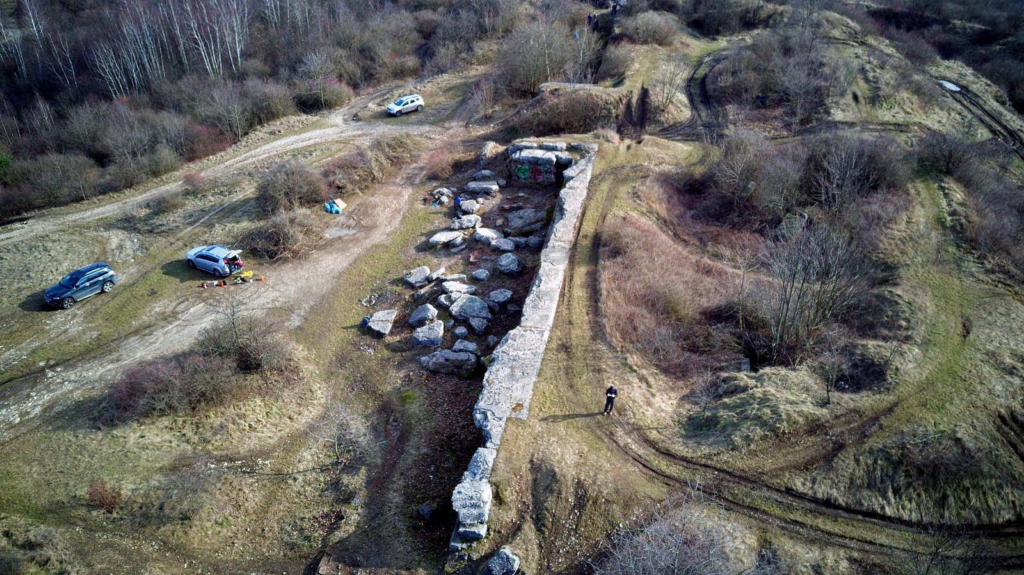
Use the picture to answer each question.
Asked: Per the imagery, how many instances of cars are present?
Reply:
3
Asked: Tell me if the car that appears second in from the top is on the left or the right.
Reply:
left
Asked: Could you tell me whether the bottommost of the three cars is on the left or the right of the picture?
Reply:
left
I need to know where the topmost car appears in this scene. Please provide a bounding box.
[389,94,426,116]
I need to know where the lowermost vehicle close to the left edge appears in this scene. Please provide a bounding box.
[44,266,118,309]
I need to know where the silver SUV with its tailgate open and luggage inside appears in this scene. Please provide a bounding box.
[185,244,239,276]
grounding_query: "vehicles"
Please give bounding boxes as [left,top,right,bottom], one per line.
[44,266,118,309]
[185,244,239,276]
[389,94,426,116]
